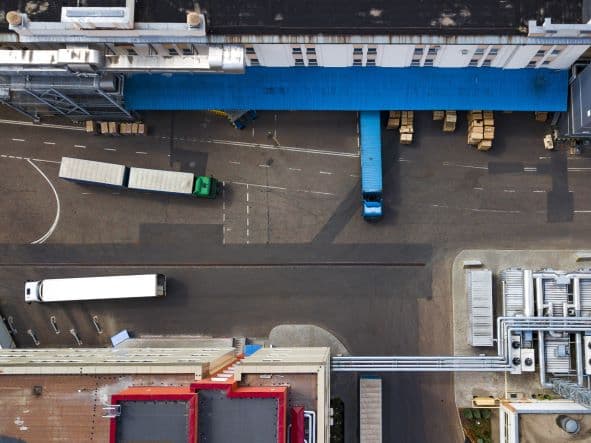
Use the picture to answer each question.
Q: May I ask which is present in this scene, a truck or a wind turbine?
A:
truck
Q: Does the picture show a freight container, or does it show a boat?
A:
freight container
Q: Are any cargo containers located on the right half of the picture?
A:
Yes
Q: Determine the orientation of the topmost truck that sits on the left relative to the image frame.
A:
horizontally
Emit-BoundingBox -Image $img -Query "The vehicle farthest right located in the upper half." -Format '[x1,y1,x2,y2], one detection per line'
[540,129,556,152]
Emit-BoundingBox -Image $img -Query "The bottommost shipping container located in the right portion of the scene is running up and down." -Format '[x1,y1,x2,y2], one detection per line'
[466,269,497,346]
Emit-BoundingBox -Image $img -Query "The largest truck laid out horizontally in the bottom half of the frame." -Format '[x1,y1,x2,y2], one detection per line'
[27,273,170,303]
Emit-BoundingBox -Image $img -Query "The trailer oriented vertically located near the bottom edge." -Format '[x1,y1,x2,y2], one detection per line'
[360,372,382,443]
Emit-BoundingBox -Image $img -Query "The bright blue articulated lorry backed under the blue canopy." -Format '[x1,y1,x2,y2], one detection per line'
[360,111,384,220]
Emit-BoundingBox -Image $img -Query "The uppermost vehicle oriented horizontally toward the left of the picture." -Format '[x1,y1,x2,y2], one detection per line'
[59,157,223,200]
